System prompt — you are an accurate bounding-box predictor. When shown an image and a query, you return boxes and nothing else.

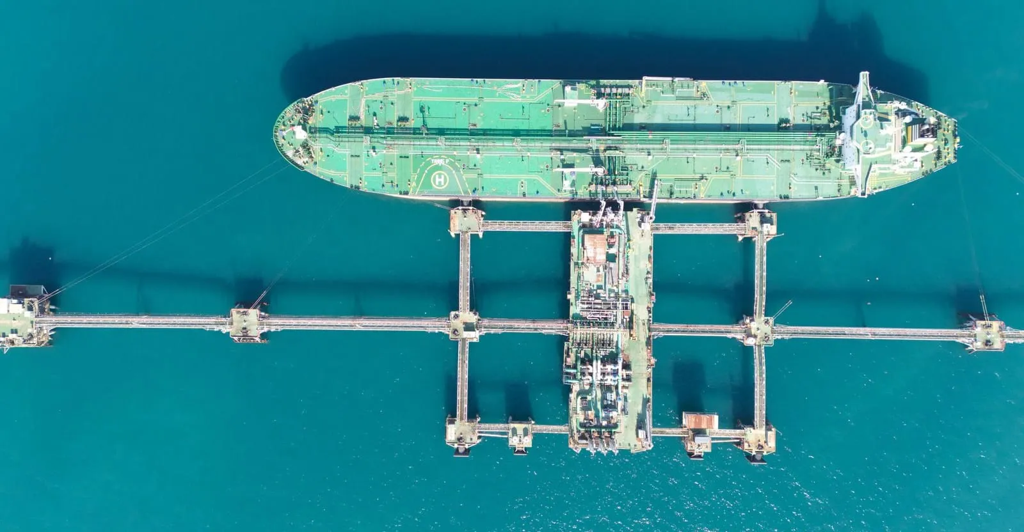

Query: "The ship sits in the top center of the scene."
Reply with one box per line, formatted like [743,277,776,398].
[273,70,962,202]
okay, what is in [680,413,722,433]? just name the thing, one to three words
shed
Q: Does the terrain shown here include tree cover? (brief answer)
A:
No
